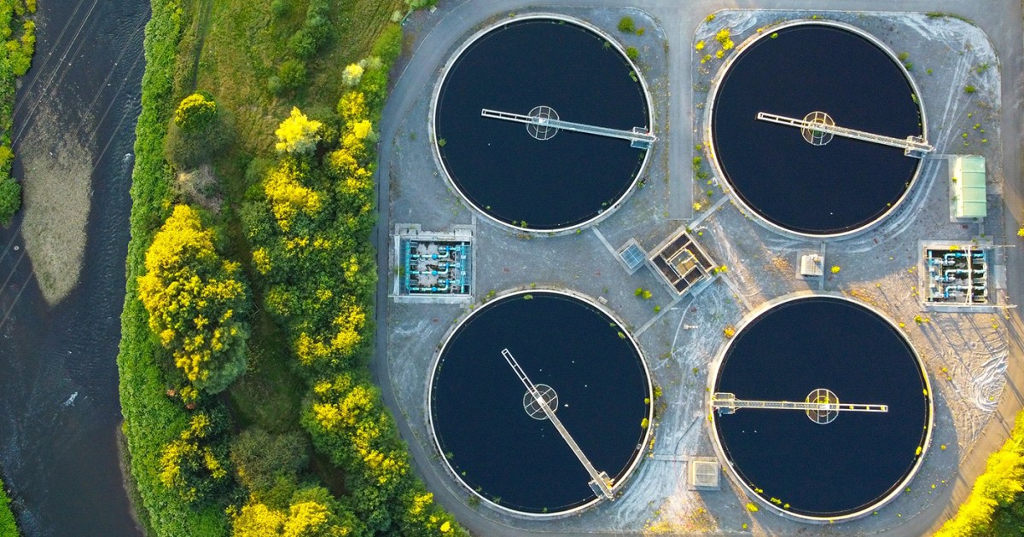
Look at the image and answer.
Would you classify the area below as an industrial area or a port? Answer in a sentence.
What you see here is an industrial area.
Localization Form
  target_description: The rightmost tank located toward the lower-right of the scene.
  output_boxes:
[701,290,933,523]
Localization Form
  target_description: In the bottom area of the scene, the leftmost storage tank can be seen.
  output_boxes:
[425,286,656,520]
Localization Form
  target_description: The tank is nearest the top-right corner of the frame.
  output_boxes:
[699,20,937,243]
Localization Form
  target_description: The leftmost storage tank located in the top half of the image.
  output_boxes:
[430,14,659,237]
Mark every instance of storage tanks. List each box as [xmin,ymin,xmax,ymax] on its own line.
[430,14,659,237]
[699,20,937,243]
[425,286,656,520]
[701,290,933,523]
